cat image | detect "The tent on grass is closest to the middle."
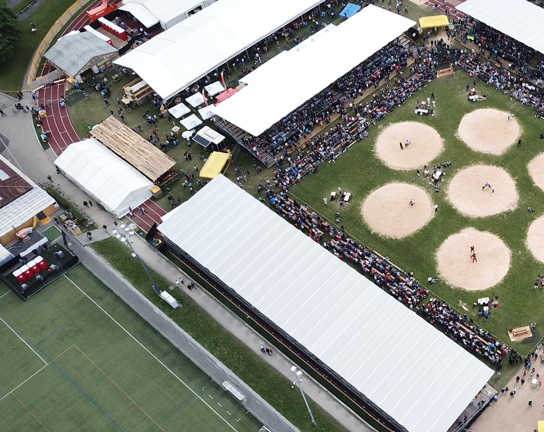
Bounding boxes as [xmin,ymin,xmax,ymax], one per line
[200,150,233,184]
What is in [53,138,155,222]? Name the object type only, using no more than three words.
tent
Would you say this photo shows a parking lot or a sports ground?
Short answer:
sports ground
